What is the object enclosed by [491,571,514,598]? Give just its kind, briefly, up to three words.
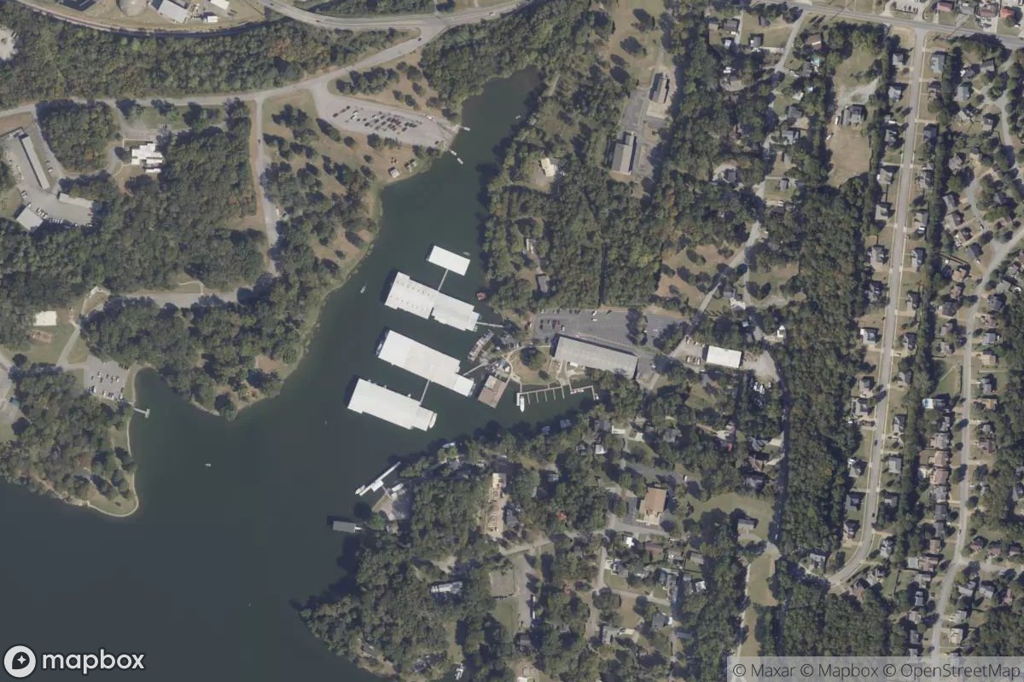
sports court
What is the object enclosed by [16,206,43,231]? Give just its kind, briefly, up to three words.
shed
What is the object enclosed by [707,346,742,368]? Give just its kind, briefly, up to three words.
building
